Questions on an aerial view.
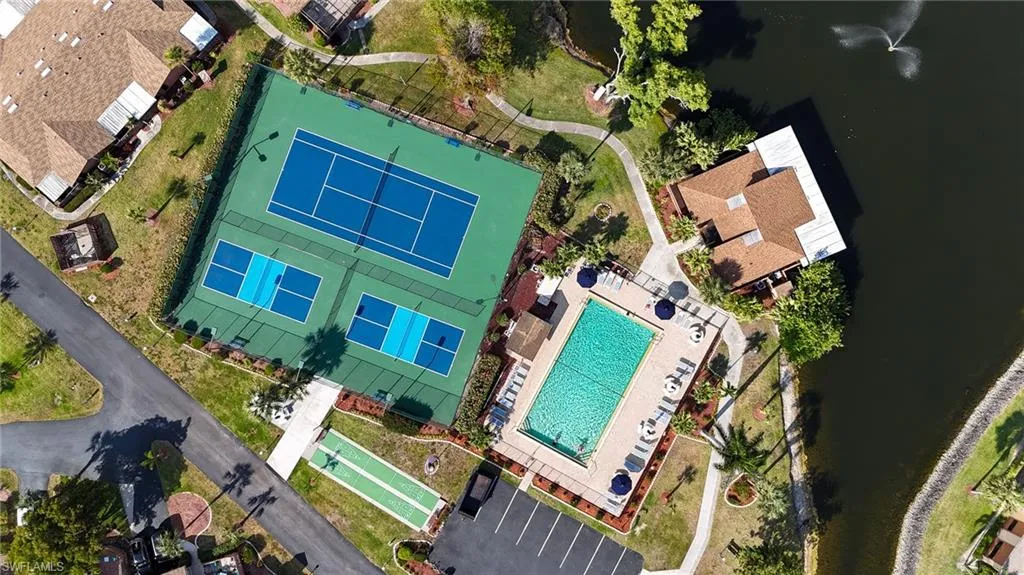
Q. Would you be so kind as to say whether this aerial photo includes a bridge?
No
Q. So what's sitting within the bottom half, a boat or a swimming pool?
swimming pool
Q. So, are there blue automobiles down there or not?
No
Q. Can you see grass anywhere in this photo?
Yes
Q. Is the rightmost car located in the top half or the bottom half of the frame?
bottom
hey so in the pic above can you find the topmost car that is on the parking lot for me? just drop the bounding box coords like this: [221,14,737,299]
[463,471,495,517]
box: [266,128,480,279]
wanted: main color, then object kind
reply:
blue tennis court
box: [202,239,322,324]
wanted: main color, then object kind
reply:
blue sports court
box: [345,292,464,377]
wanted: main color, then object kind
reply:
blue sports court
